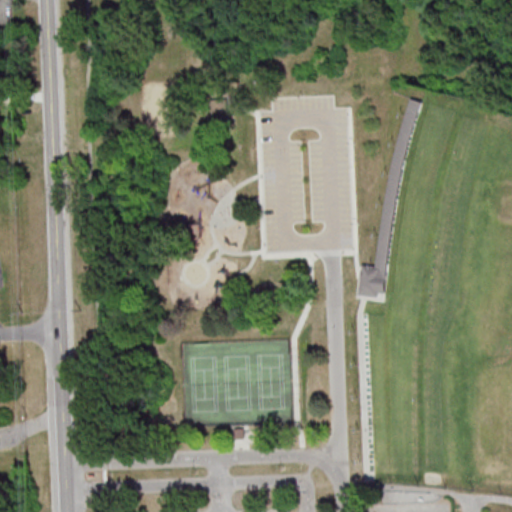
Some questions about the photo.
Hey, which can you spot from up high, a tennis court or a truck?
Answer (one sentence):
The one in the frame is a tennis court.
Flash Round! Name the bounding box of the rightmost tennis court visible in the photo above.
[254,339,294,422]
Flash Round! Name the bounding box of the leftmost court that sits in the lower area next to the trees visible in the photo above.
[184,342,224,424]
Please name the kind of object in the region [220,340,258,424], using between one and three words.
tennis court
